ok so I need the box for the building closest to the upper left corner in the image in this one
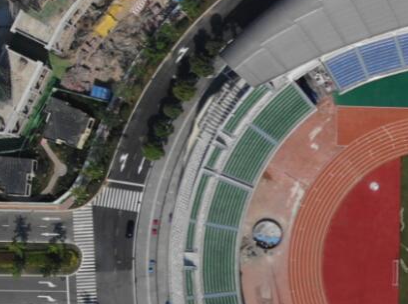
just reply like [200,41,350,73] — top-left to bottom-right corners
[43,97,105,151]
